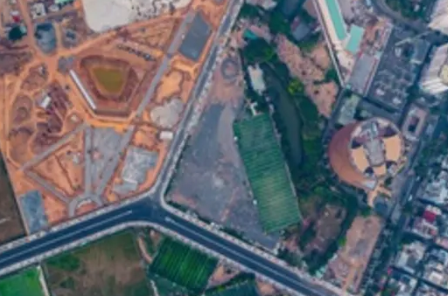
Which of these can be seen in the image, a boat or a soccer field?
soccer field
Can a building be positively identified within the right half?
Yes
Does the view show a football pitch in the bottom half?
Yes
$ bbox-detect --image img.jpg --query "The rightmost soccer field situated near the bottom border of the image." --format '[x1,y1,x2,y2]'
[151,237,217,292]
